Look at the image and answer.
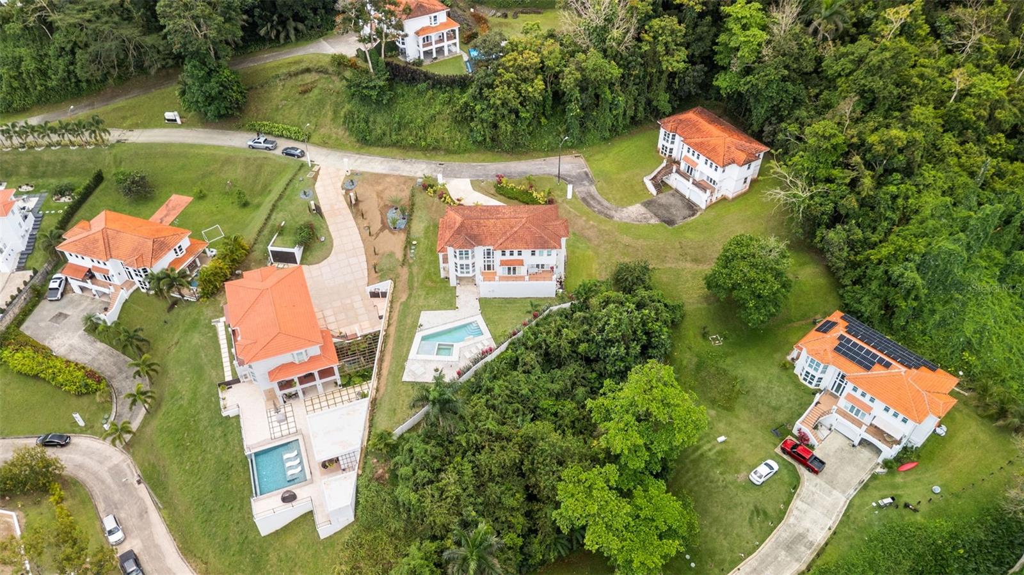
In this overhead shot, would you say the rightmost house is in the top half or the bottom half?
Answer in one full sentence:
The rightmost house is in the bottom half of the image.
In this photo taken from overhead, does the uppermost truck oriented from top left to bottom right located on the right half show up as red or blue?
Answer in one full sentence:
The color of the uppermost truck oriented from top left to bottom right located on the right half is red.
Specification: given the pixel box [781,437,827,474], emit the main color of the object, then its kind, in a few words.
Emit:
red truck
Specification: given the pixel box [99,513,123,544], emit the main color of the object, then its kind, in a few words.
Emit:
white car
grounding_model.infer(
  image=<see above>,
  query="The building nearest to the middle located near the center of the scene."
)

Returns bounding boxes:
[439,205,570,299]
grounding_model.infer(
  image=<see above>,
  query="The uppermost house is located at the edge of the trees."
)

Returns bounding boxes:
[359,0,463,61]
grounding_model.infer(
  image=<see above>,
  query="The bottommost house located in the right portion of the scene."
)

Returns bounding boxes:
[786,310,958,465]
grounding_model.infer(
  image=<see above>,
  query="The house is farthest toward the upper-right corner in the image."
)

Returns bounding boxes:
[652,107,769,207]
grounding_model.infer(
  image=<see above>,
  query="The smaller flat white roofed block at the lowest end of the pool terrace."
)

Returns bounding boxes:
[322,471,356,536]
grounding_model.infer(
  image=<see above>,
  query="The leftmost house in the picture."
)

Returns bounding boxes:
[0,187,42,278]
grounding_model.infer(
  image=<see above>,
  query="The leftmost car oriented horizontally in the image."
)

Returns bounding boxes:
[32,431,69,448]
